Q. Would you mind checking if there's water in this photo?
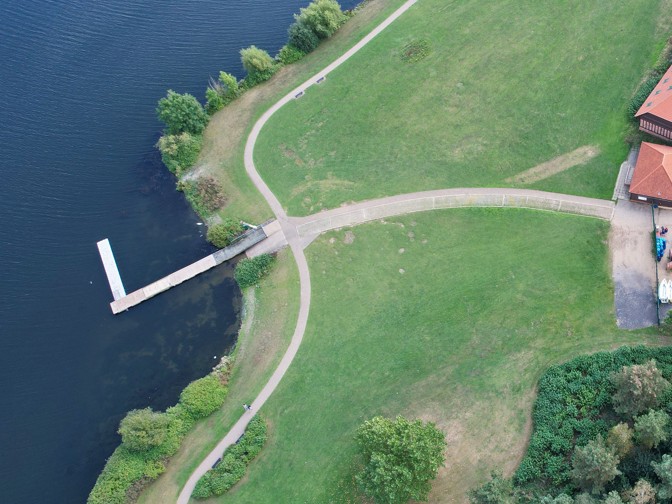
Yes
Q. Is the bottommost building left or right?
right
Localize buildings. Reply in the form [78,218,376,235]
[634,62,672,141]
[629,141,672,210]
